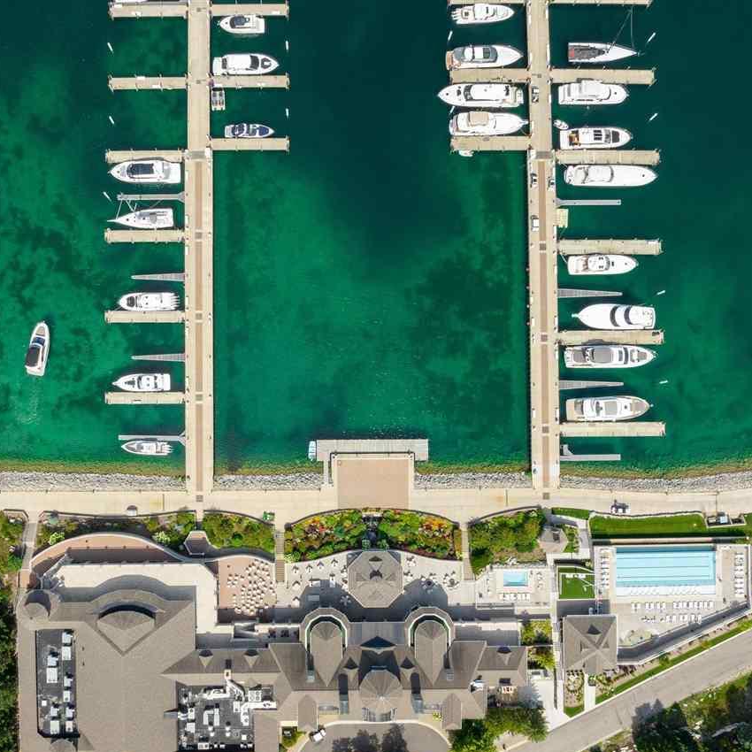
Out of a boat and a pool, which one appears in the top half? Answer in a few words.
boat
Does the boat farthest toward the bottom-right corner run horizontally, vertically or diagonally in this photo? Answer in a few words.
horizontally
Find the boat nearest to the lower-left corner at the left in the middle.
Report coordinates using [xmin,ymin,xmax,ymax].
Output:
[122,440,173,456]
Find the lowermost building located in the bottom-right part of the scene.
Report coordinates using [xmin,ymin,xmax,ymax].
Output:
[558,613,618,676]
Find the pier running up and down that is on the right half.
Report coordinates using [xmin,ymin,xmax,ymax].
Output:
[447,0,665,487]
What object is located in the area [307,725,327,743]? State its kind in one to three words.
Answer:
car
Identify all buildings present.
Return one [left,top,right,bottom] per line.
[539,525,567,553]
[347,550,404,607]
[558,613,618,676]
[17,546,528,752]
